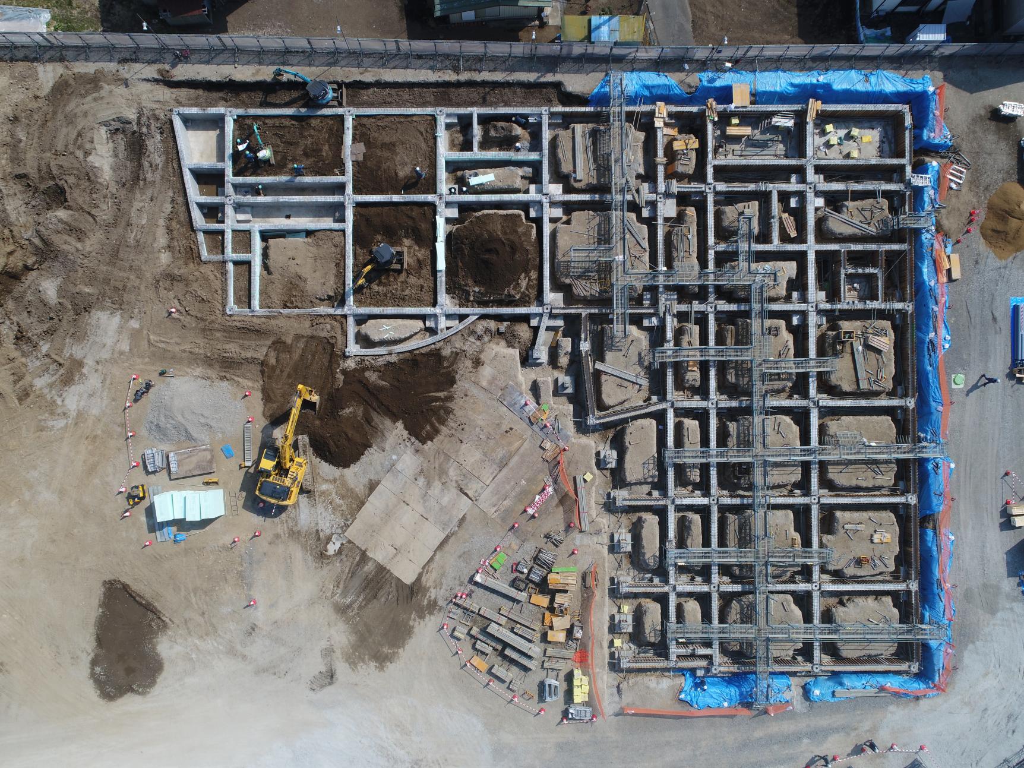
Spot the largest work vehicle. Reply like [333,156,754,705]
[250,380,325,507]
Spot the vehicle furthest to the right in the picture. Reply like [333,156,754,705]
[353,242,412,296]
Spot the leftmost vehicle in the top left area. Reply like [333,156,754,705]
[251,119,283,167]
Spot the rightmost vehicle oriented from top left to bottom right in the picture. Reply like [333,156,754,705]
[273,61,343,107]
